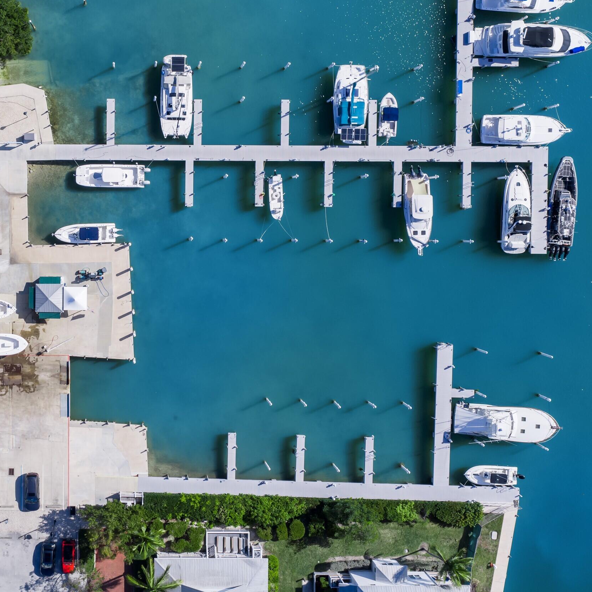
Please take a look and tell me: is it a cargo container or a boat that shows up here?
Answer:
boat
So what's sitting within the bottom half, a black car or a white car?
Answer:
black car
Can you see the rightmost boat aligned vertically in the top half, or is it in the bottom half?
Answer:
top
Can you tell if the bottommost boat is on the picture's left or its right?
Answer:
right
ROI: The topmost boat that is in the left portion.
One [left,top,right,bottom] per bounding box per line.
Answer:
[162,53,187,67]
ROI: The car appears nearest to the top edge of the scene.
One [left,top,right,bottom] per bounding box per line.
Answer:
[23,472,41,511]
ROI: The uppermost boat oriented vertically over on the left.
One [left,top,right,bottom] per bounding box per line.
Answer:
[159,57,194,140]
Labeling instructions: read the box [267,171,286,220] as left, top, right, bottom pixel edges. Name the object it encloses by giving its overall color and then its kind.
white boat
